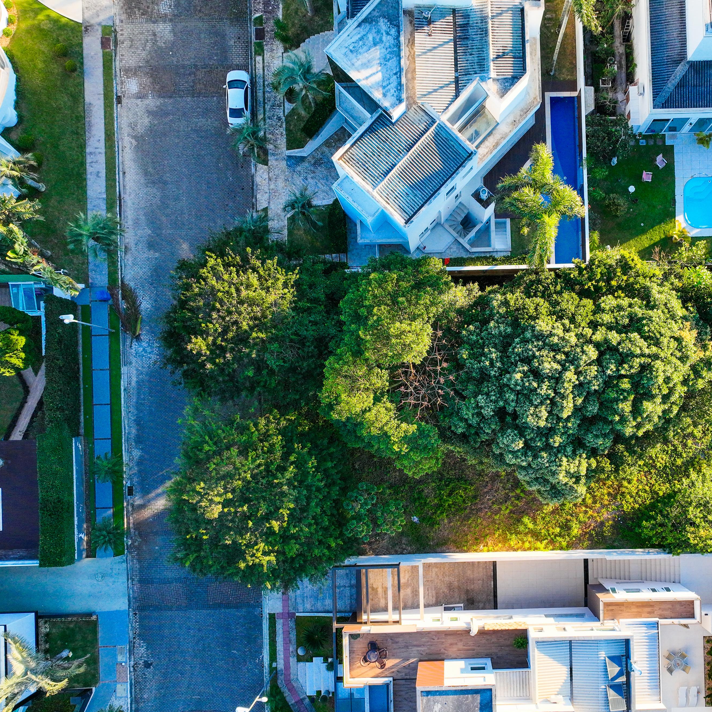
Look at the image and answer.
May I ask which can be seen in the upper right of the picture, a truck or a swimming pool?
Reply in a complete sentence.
What appears in the upper right of the picture is a swimming pool.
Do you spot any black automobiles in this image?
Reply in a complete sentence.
No, there appears to be no black automobile in this shot.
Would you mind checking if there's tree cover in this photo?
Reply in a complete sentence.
Yes, tree cover shows up in the scene.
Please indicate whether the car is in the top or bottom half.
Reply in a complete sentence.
The top half of the photo is where the car is.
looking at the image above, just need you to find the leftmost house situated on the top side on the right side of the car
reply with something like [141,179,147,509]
[324,0,544,259]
